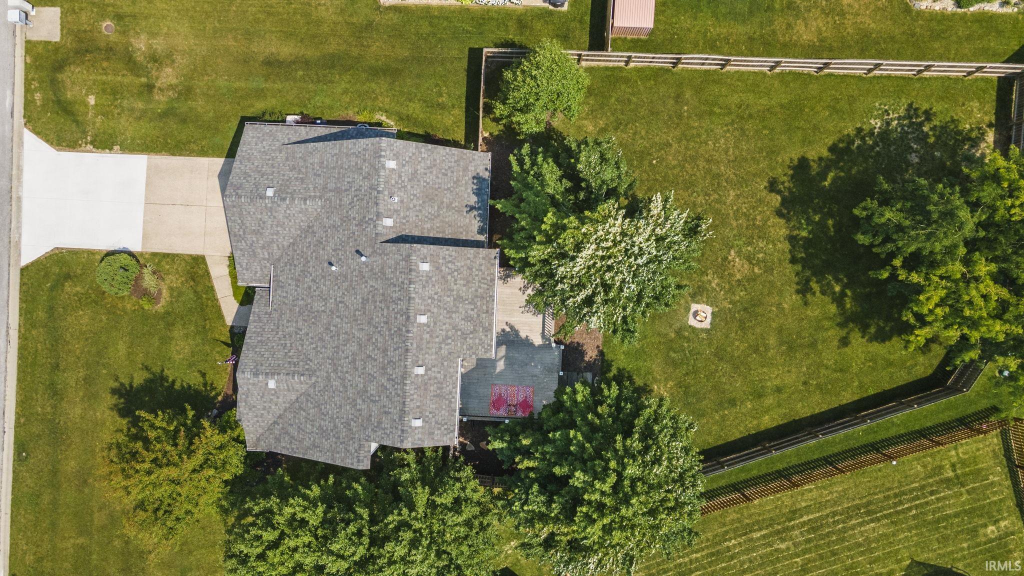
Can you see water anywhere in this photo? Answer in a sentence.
No, the scene doesn't show any water.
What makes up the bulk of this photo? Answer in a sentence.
Most of the picture is covered by grass.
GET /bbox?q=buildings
[222,122,500,470]
[611,0,656,38]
